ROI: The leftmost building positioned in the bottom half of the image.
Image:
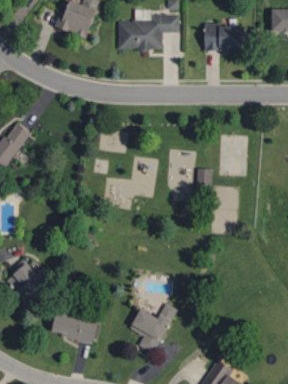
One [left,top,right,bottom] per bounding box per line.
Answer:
[6,260,37,292]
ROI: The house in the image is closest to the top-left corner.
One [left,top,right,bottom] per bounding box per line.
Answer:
[54,0,98,39]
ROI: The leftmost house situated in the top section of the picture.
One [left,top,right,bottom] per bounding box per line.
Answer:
[0,123,32,163]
